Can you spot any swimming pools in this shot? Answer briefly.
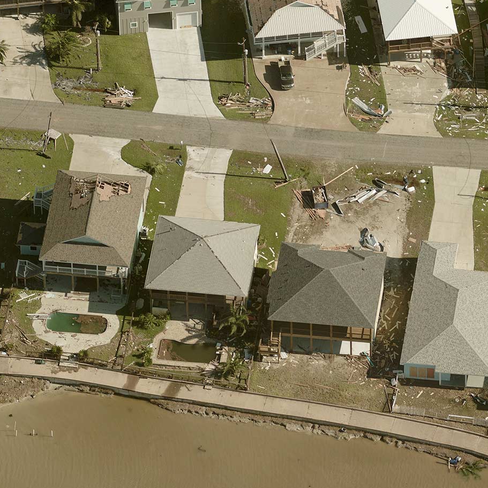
Yes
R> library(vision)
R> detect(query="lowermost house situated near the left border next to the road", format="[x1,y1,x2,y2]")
[16,170,148,299]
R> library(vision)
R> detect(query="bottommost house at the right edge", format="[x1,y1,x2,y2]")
[396,241,488,393]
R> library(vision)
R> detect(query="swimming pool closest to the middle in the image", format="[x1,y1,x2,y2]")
[150,319,236,367]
